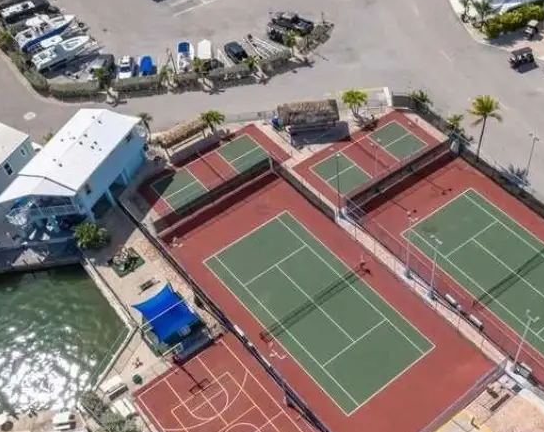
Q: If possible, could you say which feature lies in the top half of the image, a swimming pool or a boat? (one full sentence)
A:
It is a boat that can be seen in the top half of the image.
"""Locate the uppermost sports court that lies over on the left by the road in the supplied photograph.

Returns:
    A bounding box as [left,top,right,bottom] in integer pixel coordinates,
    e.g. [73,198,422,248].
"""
[126,124,294,233]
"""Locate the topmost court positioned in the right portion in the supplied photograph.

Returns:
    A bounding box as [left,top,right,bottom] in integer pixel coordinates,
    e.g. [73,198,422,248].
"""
[293,107,438,209]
